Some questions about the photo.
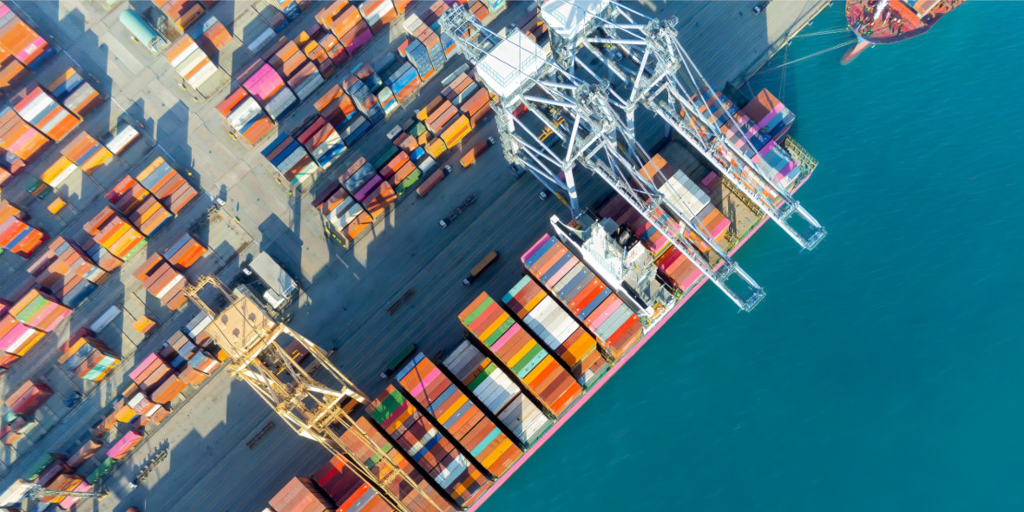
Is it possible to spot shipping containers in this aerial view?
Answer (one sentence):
Yes, there is a shipping container in the image.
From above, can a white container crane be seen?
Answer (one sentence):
Yes, I can see a white container crane in this picture.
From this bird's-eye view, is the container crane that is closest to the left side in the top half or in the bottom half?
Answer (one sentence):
The container crane that is closest to the left side is in the bottom half of the image.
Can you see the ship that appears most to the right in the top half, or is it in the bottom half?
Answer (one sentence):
You can find the ship that appears most to the right in the top half.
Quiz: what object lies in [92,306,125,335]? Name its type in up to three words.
shipping container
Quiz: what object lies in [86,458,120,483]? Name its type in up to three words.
shipping container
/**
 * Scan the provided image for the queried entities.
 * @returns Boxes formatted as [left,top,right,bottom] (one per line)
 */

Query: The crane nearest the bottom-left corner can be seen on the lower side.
[184,260,426,512]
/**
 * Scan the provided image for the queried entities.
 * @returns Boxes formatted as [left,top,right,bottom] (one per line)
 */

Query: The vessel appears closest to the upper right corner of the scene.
[842,0,965,63]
